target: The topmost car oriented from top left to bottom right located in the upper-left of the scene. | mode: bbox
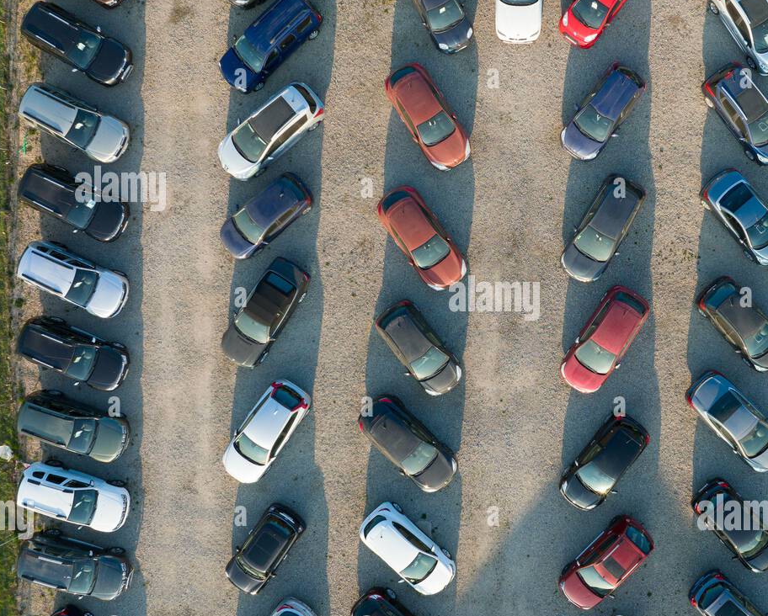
[20,0,134,87]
